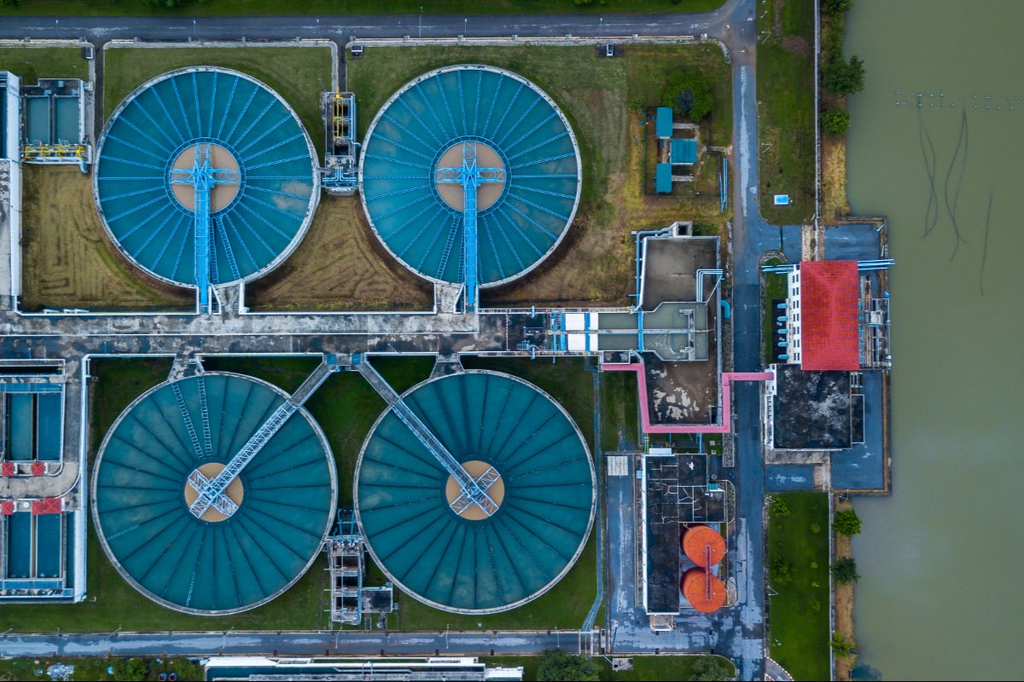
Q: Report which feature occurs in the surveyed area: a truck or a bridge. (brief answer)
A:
bridge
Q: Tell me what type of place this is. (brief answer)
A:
industrial area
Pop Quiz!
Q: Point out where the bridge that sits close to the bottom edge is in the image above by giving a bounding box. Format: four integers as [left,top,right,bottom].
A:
[578,628,606,655]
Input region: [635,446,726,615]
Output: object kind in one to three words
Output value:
building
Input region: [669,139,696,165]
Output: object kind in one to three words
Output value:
shed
